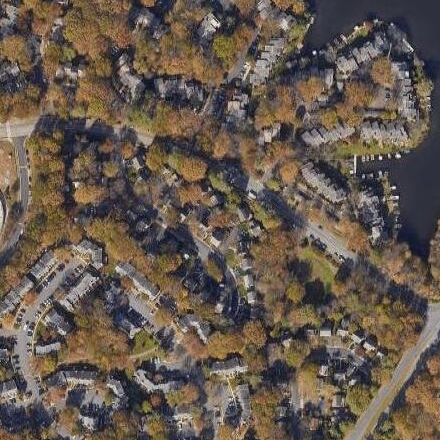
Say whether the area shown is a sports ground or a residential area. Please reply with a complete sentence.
This image shows a residential area.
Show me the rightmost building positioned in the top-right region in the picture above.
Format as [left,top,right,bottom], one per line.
[391,59,422,120]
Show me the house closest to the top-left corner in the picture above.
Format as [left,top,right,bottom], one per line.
[0,4,22,32]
